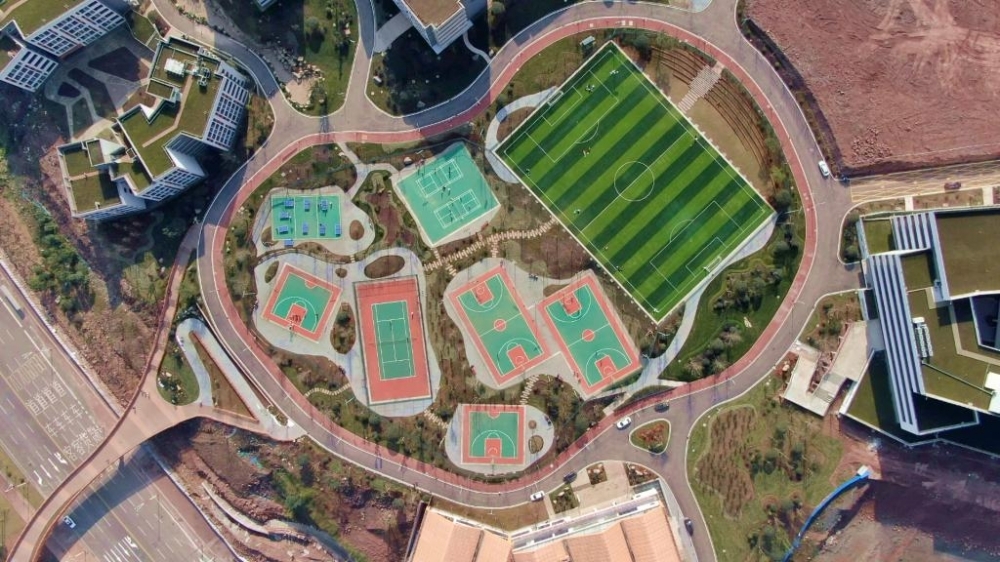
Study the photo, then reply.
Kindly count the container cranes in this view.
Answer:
0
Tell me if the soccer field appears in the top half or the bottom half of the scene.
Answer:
top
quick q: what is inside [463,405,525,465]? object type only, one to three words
basketball court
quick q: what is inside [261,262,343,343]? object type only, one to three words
basketball court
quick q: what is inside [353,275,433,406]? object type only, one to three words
tennis court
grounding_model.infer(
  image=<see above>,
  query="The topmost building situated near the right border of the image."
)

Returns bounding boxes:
[835,208,1000,457]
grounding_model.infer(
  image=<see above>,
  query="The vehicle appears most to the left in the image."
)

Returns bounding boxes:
[0,286,23,312]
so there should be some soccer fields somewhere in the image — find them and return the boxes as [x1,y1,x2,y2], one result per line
[494,40,775,324]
